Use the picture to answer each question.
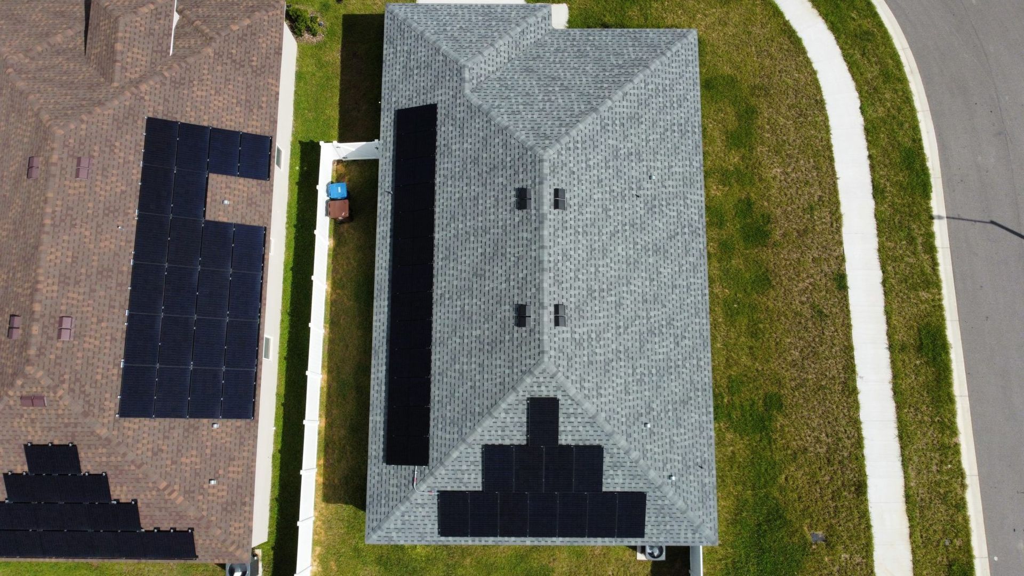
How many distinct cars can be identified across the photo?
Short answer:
0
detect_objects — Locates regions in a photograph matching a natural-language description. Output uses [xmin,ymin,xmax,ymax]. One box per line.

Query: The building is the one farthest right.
[365,2,719,547]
